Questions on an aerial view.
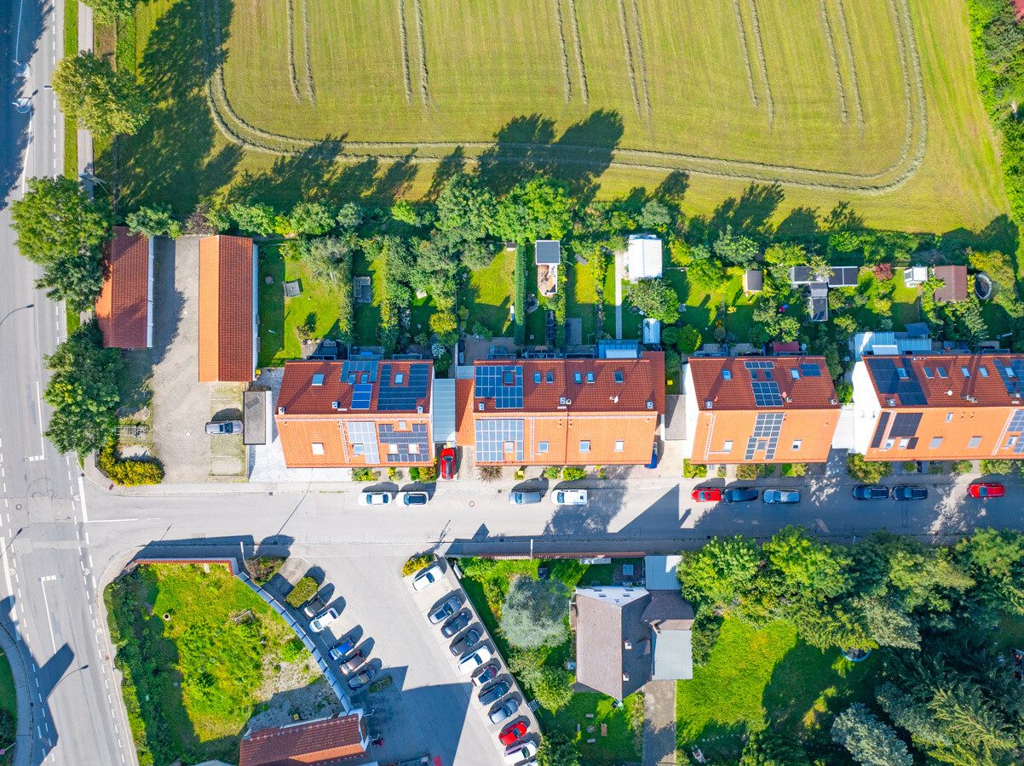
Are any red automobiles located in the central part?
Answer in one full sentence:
Yes, looking in the central part, one can make out a red automobile.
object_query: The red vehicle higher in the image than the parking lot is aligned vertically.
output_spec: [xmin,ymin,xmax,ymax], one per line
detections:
[439,447,455,480]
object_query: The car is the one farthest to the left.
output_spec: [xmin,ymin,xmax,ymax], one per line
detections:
[207,420,244,436]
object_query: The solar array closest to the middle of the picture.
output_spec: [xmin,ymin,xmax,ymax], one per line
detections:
[475,365,523,407]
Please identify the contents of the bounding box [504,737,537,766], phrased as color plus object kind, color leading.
white car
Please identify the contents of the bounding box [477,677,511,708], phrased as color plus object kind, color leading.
blue car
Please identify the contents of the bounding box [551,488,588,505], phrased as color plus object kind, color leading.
white vehicle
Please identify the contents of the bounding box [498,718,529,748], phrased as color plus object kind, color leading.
red car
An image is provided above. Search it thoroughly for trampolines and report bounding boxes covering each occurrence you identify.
[968,275,1003,297]
[838,644,870,666]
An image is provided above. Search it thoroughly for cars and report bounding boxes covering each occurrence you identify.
[722,487,758,504]
[306,593,330,615]
[470,661,501,690]
[397,490,430,507]
[477,677,511,708]
[458,645,492,675]
[498,718,529,748]
[504,737,537,766]
[358,490,394,507]
[329,636,358,661]
[449,627,482,657]
[762,488,799,505]
[339,649,368,676]
[439,447,455,480]
[850,484,888,501]
[889,485,927,501]
[207,420,244,436]
[412,565,445,591]
[347,662,379,691]
[309,605,341,631]
[644,441,660,472]
[428,595,462,623]
[509,489,542,505]
[440,611,473,638]
[488,697,520,726]
[690,487,721,503]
